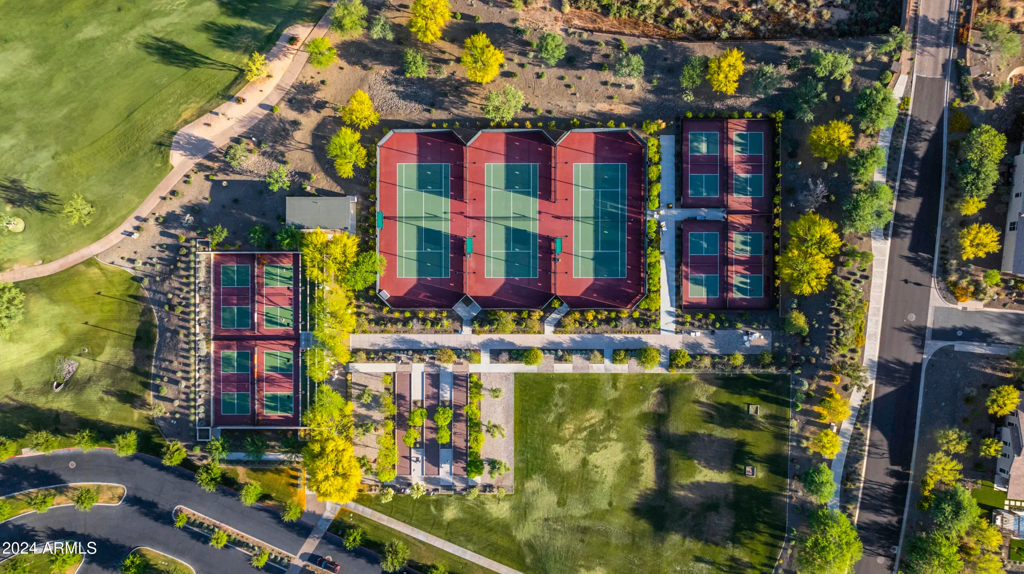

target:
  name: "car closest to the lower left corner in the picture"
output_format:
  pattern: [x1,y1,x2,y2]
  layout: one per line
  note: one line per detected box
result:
[316,556,340,573]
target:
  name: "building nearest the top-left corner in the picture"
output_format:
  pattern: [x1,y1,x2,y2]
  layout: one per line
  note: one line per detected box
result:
[286,197,361,232]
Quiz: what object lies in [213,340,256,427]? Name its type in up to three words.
sports court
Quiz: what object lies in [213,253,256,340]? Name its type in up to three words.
sports court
